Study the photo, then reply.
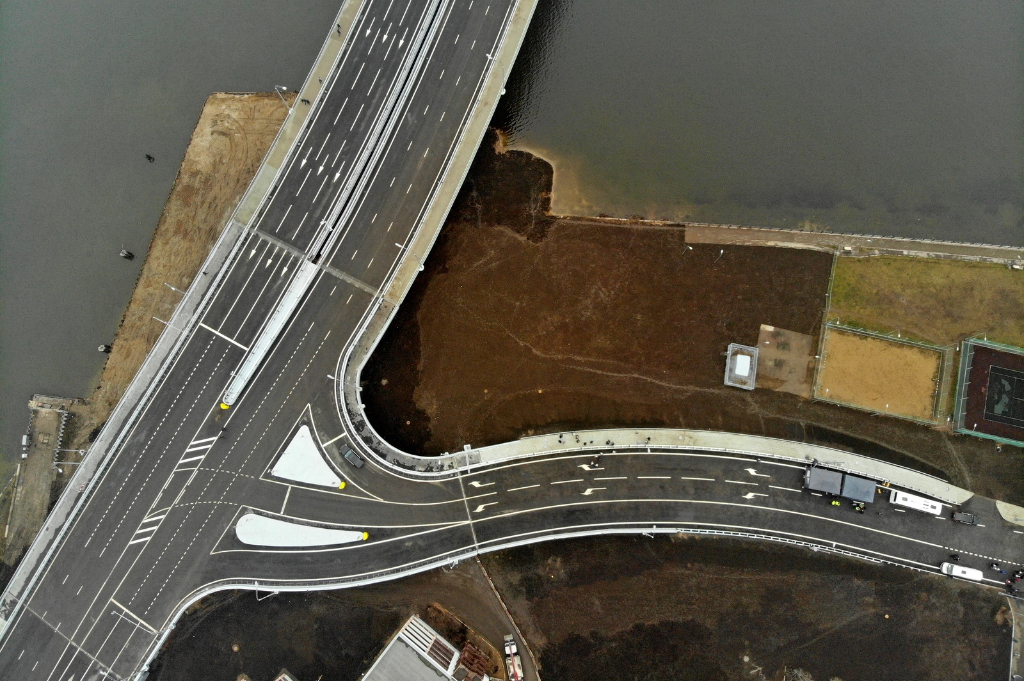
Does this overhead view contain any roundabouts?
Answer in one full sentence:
No, there's no roundabout here.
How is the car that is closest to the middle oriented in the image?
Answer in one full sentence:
The car that is closest to the middle runs at an angle in the image.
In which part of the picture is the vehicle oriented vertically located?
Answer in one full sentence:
You can find the vehicle oriented vertically in the bottom area of the picture.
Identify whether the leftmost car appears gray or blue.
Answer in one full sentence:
The leftmost car is gray.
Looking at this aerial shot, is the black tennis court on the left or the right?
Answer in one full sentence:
The black tennis court appears in the right half of the scene.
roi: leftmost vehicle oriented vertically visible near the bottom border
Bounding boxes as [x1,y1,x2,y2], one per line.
[503,635,523,681]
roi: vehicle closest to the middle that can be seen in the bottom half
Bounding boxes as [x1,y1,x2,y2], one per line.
[341,443,364,469]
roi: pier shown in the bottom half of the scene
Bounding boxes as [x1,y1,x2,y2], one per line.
[4,394,76,537]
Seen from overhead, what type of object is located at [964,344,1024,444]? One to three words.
tennis court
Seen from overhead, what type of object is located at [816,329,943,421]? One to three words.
sports court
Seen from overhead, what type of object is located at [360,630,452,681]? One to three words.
building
